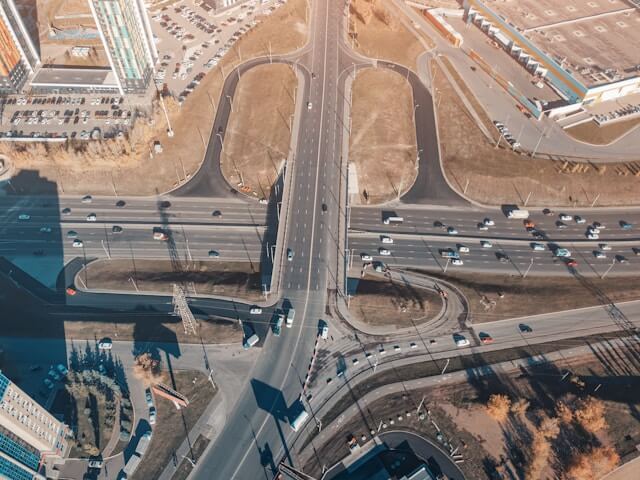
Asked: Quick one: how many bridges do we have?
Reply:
1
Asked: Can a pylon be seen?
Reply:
Yes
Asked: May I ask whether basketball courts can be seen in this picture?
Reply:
No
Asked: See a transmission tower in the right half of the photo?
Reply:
No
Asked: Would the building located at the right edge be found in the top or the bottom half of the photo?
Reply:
top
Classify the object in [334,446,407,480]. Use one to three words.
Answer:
building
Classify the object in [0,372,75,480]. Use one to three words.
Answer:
building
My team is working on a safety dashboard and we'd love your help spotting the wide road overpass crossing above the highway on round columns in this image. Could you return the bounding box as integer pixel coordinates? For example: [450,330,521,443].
[268,161,347,289]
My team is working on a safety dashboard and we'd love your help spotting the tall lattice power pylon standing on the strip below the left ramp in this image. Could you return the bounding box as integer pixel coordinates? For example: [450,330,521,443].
[166,277,196,337]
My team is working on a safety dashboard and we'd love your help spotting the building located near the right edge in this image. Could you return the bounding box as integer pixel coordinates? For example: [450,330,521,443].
[457,0,640,101]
